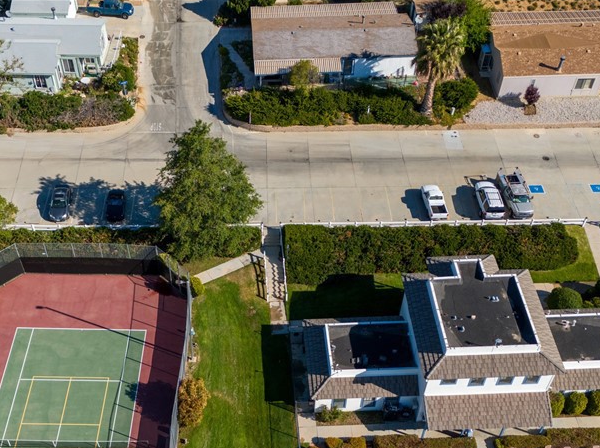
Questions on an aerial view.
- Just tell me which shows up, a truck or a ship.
truck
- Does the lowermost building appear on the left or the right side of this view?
right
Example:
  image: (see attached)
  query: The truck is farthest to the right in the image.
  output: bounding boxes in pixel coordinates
[503,162,537,215]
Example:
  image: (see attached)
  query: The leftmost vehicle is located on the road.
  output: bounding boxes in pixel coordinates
[45,182,71,220]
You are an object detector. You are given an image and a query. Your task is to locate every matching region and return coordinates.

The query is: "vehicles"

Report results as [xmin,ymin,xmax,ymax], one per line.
[478,184,509,219]
[87,0,130,19]
[101,185,125,222]
[424,185,452,222]
[503,162,537,215]
[45,182,71,220]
